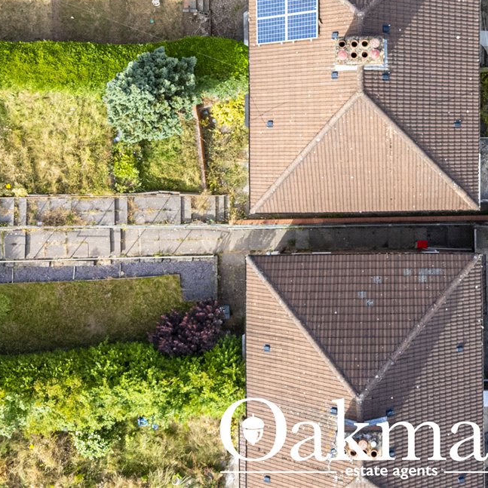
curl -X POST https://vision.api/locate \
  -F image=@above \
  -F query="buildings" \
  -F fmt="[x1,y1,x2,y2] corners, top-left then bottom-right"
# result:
[244,245,484,488]
[245,0,482,216]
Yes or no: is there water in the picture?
No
